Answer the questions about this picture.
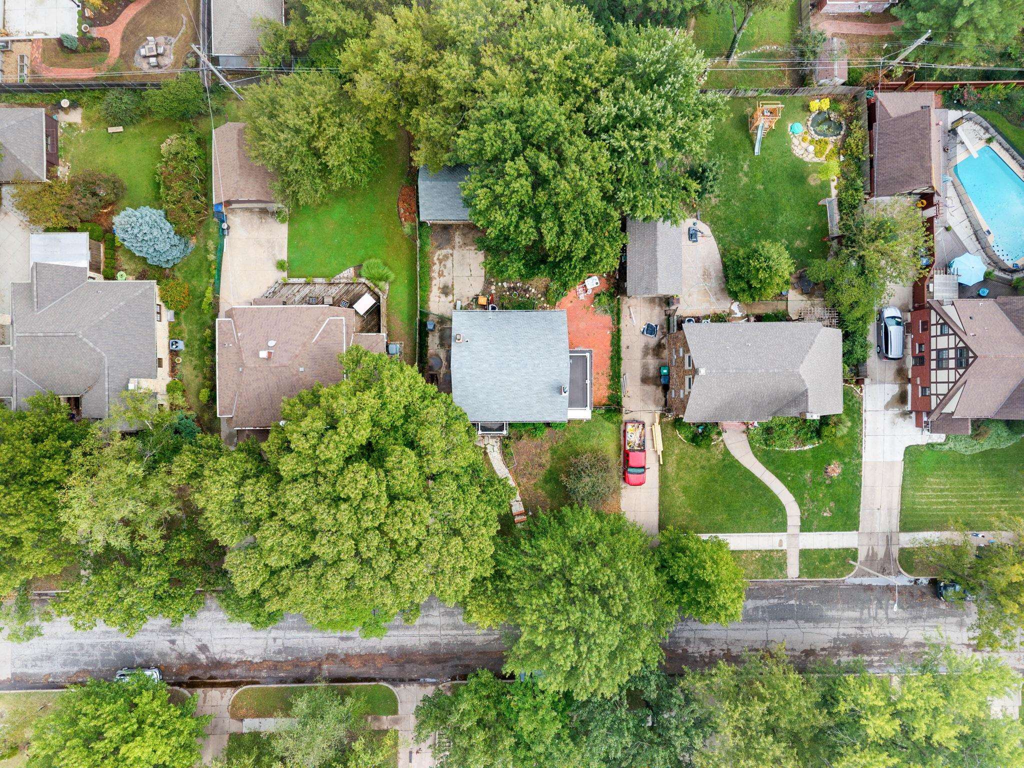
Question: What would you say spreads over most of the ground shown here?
trees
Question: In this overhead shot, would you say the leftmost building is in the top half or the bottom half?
top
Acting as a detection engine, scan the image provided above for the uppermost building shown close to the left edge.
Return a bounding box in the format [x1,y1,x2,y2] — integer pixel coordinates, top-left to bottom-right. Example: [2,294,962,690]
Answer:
[0,107,58,188]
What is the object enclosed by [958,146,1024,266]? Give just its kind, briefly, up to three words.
swimming pool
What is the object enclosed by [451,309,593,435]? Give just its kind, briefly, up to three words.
house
